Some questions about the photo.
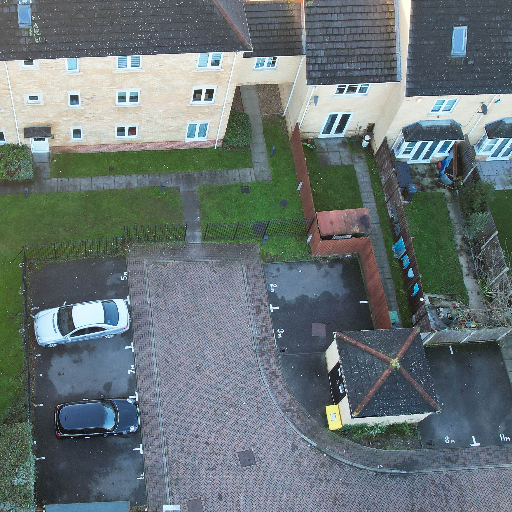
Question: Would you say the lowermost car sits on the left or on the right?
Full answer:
The lowermost car appears in the left half of the scene.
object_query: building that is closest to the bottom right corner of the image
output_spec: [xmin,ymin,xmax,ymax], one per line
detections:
[331,325,442,424]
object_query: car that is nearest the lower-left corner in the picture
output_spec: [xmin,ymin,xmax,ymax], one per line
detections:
[55,392,141,442]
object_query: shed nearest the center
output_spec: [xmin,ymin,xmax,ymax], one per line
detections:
[317,208,372,240]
